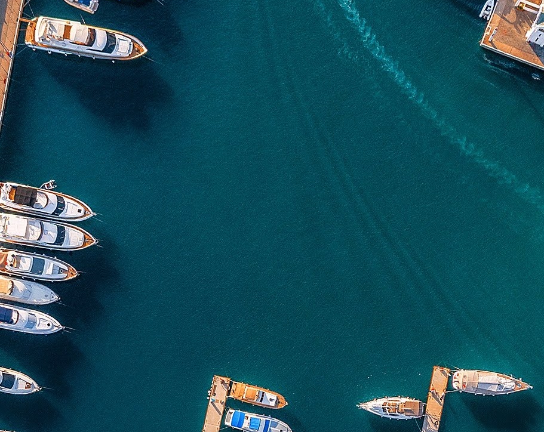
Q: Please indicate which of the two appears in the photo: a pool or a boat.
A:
boat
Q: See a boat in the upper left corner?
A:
Yes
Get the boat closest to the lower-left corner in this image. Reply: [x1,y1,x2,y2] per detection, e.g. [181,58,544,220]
[0,367,65,396]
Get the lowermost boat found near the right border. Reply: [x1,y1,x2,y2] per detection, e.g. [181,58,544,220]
[448,369,534,396]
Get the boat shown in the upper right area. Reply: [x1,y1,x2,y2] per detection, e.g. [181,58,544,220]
[477,0,494,24]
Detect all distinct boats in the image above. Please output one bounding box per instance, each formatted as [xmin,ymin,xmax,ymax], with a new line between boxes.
[448,369,534,396]
[0,214,123,252]
[477,0,494,24]
[0,181,116,225]
[39,176,63,190]
[0,304,74,337]
[0,367,65,396]
[355,395,429,421]
[224,411,293,432]
[0,278,83,309]
[225,376,290,408]
[62,0,105,18]
[13,12,172,62]
[0,248,104,282]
